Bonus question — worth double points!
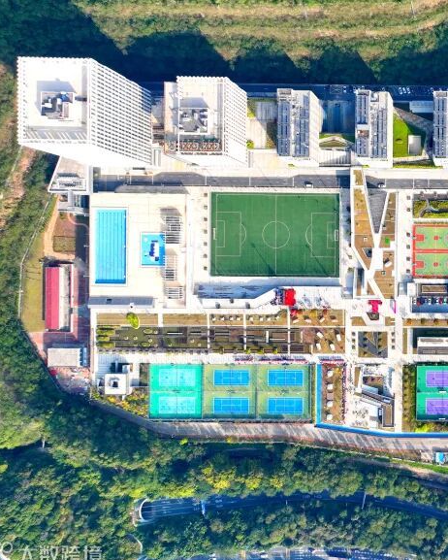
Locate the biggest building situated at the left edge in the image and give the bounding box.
[17,57,159,169]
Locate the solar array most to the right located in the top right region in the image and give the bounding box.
[436,98,448,159]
